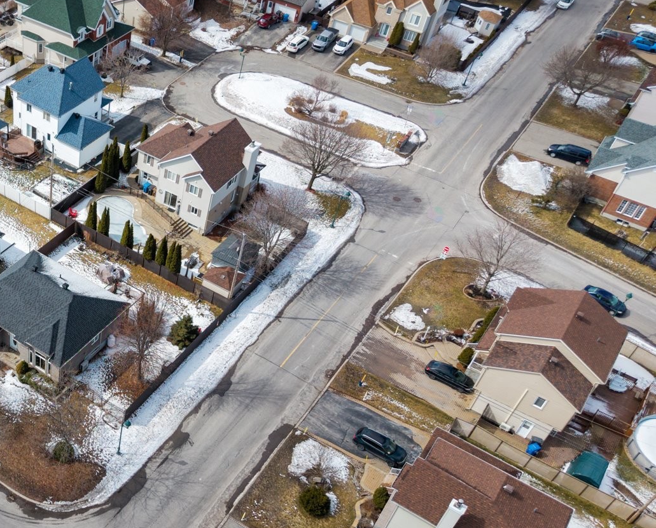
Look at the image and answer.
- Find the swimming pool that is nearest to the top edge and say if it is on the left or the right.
left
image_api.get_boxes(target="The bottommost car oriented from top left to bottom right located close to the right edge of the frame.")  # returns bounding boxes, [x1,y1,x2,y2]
[580,282,631,321]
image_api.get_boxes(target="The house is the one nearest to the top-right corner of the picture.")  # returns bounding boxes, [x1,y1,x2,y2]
[599,67,656,149]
